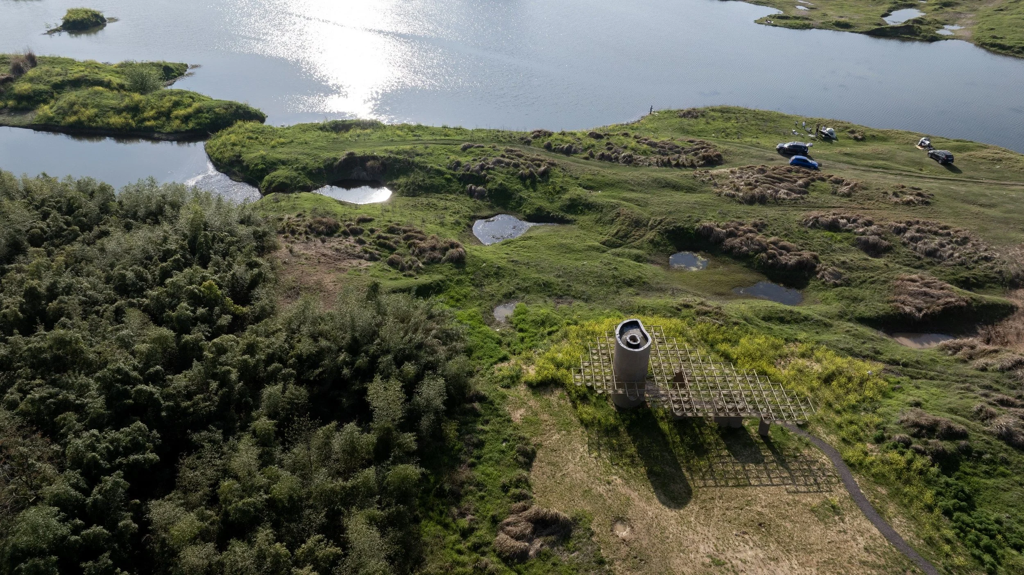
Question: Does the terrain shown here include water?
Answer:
Yes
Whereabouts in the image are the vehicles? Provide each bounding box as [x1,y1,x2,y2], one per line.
[789,149,823,167]
[775,137,819,152]
[928,146,957,163]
